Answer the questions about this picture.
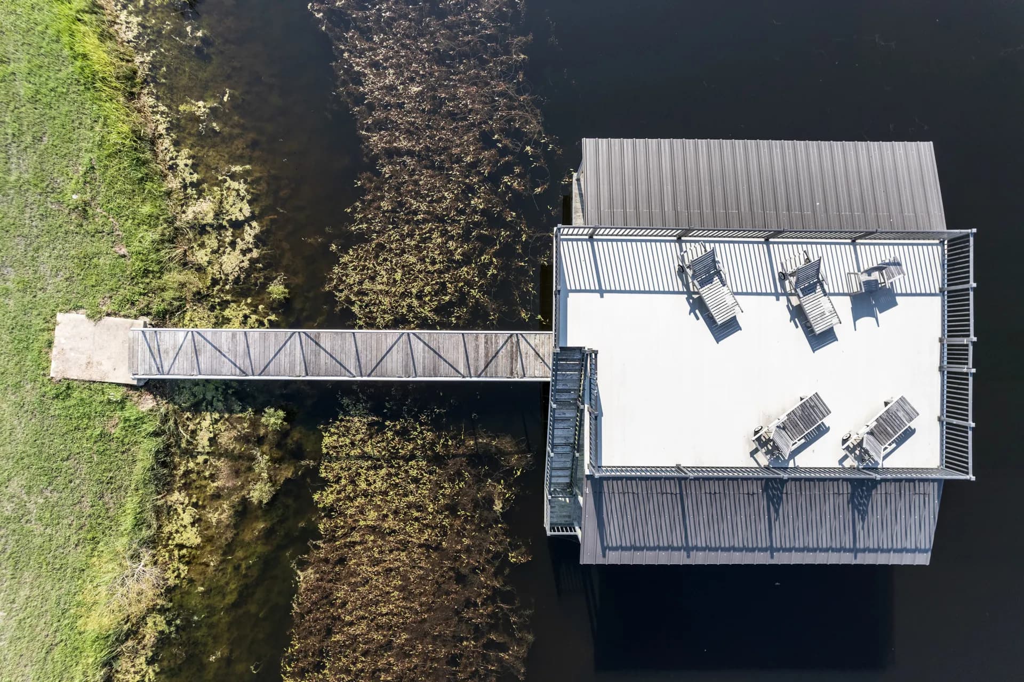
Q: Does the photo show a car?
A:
No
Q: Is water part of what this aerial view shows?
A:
Yes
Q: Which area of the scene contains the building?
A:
right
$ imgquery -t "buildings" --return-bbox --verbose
[543,138,977,567]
